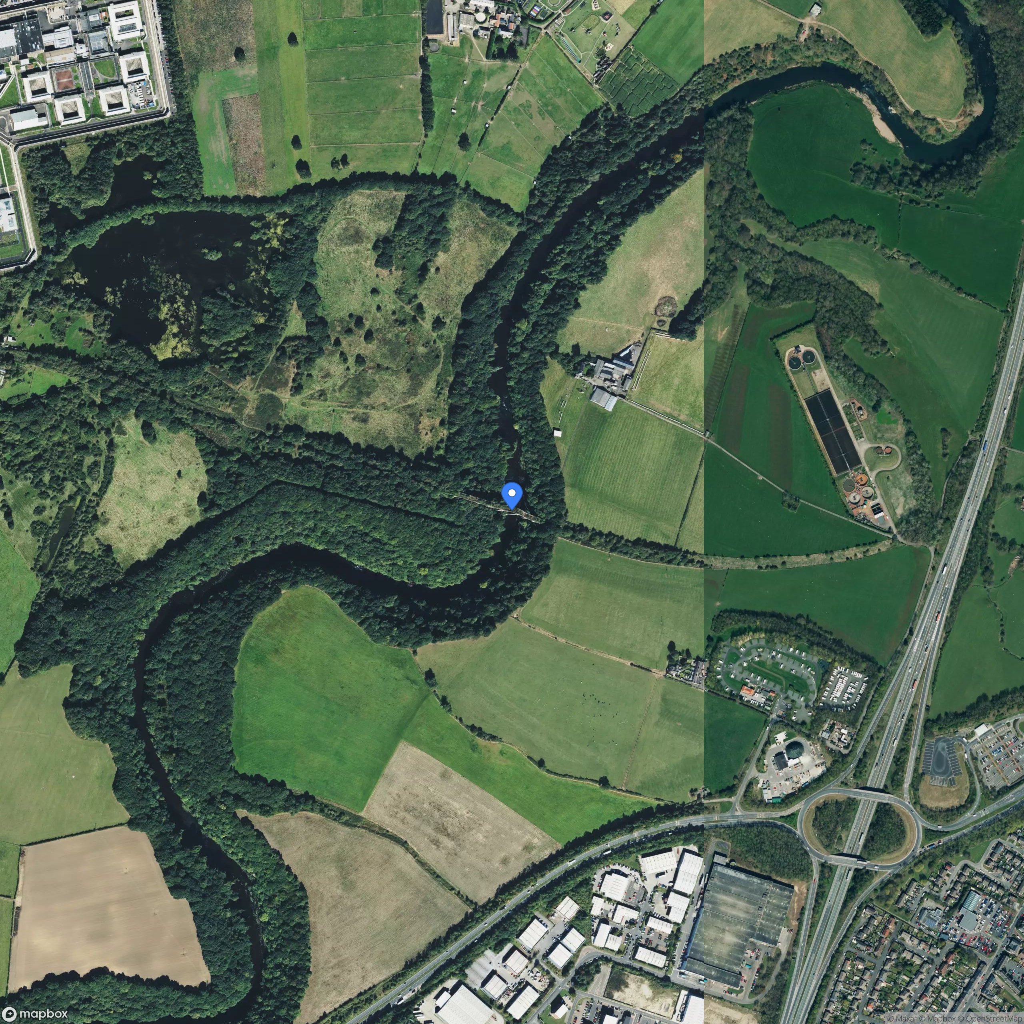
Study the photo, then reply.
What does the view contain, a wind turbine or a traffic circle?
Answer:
traffic circle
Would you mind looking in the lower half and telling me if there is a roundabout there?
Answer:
Yes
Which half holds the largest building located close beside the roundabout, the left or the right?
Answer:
right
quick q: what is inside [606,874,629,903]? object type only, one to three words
shed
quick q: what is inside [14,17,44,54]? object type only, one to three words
building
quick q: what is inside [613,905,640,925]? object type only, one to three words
shed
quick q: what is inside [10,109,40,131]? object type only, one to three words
building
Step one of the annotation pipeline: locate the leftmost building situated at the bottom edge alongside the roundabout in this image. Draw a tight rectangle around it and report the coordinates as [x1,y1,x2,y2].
[690,864,794,974]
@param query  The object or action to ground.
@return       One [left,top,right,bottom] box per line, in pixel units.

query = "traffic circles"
[798,788,922,870]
